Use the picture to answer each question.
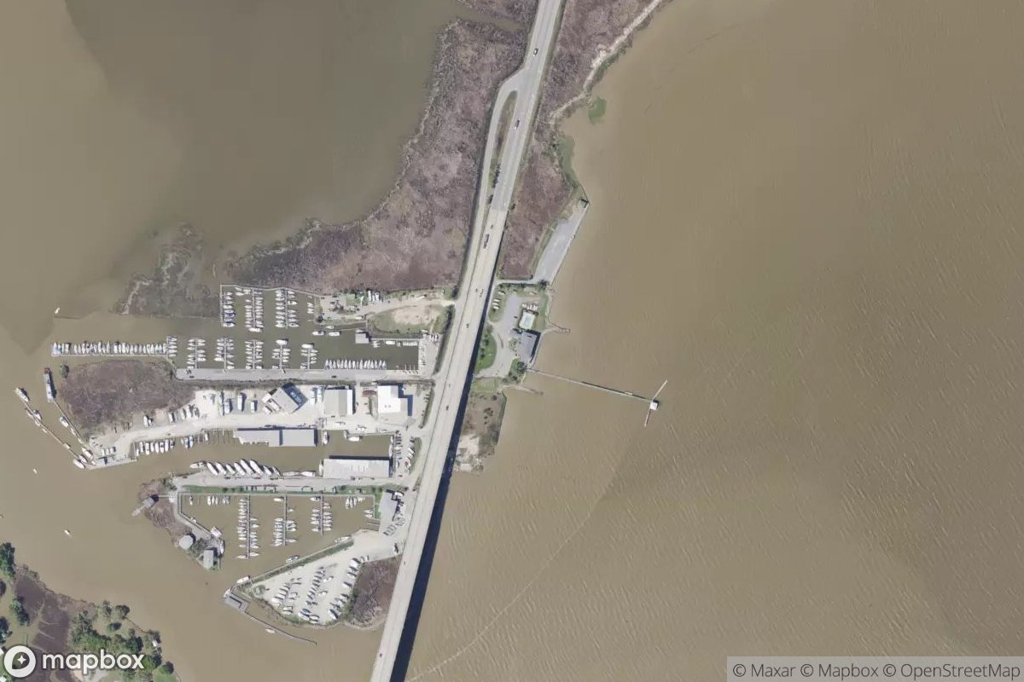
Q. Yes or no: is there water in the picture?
Yes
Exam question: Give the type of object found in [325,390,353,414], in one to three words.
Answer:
building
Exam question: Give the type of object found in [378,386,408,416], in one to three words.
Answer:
building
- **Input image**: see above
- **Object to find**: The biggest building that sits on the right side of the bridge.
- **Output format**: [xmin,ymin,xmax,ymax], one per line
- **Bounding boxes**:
[518,331,537,363]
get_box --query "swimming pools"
[520,311,535,329]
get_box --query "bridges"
[370,209,509,682]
